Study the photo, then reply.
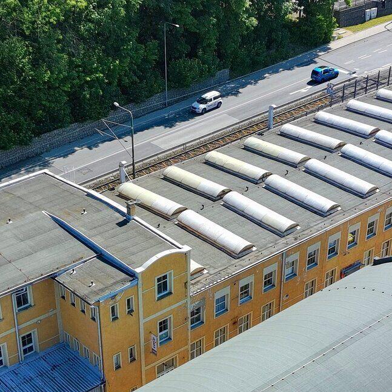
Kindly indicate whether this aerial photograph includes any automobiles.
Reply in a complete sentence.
Yes, an automobile is visible in the scene.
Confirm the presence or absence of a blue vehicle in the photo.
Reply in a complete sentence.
Yes, a blue vehicle appears in the view.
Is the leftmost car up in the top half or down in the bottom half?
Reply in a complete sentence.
It is in the top half that the leftmost car appears.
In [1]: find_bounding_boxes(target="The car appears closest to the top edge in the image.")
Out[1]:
[311,62,340,82]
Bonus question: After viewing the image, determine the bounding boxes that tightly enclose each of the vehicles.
[311,62,340,82]
[190,89,225,112]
